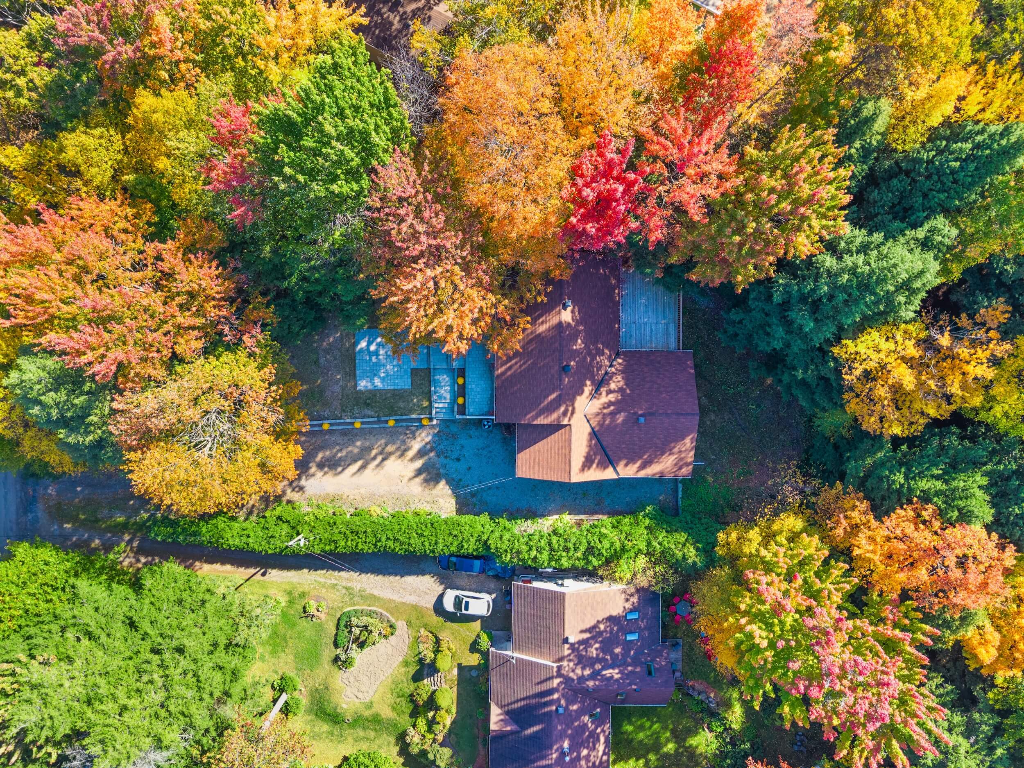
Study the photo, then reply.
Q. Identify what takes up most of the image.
trees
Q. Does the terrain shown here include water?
No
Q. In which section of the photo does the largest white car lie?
bottom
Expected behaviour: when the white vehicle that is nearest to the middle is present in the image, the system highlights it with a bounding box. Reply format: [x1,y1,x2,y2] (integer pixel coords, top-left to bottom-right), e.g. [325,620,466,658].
[443,588,493,615]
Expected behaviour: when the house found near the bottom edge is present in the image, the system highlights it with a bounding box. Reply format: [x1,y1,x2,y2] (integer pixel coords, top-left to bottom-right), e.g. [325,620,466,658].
[488,578,675,768]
